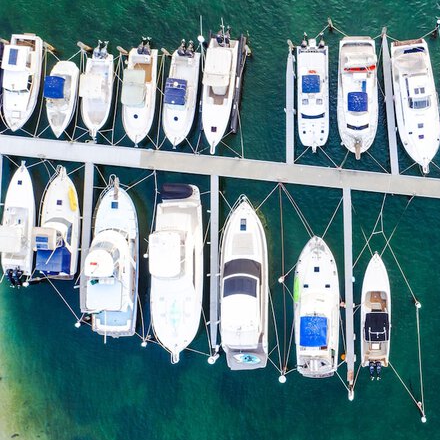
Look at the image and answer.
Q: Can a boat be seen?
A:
Yes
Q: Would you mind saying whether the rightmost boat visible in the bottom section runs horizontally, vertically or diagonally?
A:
vertically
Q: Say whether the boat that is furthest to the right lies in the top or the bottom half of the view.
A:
top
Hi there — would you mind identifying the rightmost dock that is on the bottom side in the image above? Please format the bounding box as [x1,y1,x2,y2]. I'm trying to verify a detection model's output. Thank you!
[342,188,359,373]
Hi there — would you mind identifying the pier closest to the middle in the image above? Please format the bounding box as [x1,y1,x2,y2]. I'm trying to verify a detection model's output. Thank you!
[204,175,223,349]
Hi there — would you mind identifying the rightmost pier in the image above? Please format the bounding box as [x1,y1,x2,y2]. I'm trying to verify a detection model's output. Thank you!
[380,33,401,174]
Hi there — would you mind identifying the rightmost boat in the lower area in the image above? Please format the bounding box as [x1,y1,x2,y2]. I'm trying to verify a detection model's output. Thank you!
[359,250,393,374]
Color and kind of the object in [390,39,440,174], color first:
white boat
